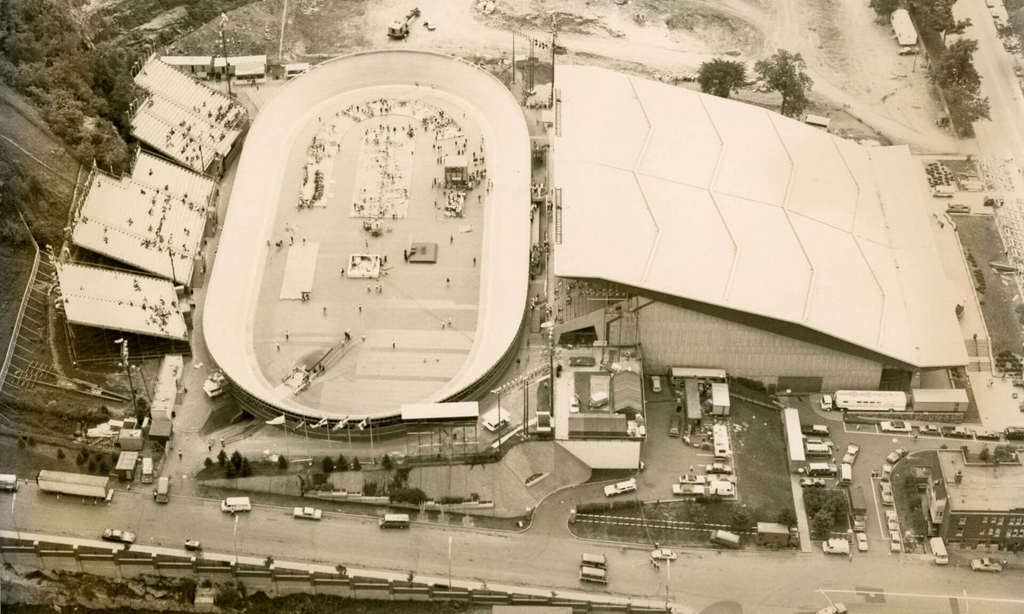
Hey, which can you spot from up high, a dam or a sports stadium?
sports stadium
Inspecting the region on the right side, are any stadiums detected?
Yes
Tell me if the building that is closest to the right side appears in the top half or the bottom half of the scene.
bottom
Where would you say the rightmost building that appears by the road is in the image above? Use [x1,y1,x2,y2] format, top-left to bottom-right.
[928,449,1024,557]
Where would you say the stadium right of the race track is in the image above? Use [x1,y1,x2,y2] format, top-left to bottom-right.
[546,61,968,391]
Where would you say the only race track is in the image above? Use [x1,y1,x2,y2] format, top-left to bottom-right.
[208,45,533,444]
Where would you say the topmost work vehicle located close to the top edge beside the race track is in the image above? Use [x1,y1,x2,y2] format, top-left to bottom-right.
[387,9,436,42]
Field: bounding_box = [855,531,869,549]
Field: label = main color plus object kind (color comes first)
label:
white car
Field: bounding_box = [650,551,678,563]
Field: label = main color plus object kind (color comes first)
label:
white vehicle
